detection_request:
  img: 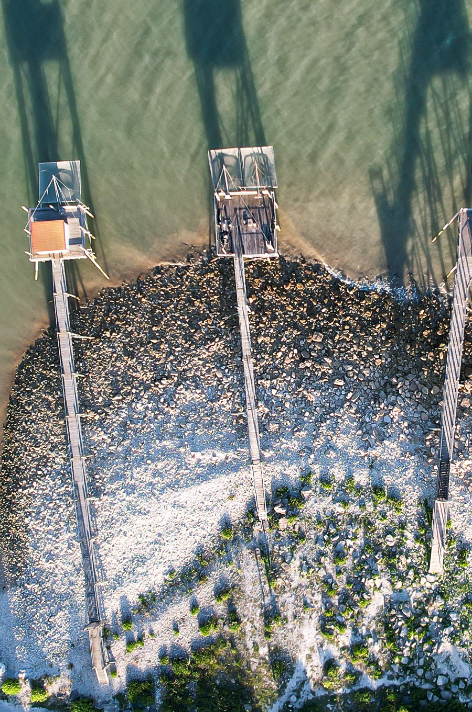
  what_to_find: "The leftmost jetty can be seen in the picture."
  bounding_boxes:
[18,202,115,686]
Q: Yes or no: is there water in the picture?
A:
Yes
